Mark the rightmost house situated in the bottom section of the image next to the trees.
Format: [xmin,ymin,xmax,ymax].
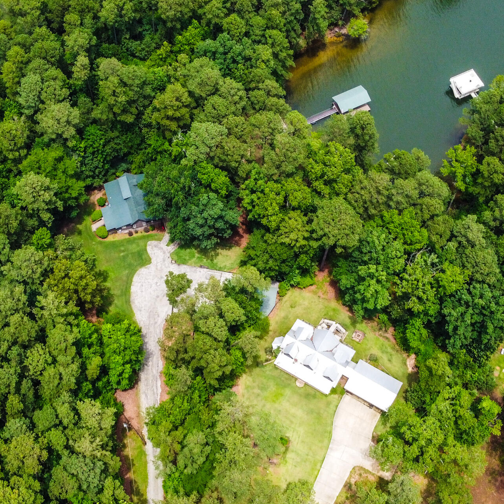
[272,317,403,412]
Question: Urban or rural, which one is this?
rural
